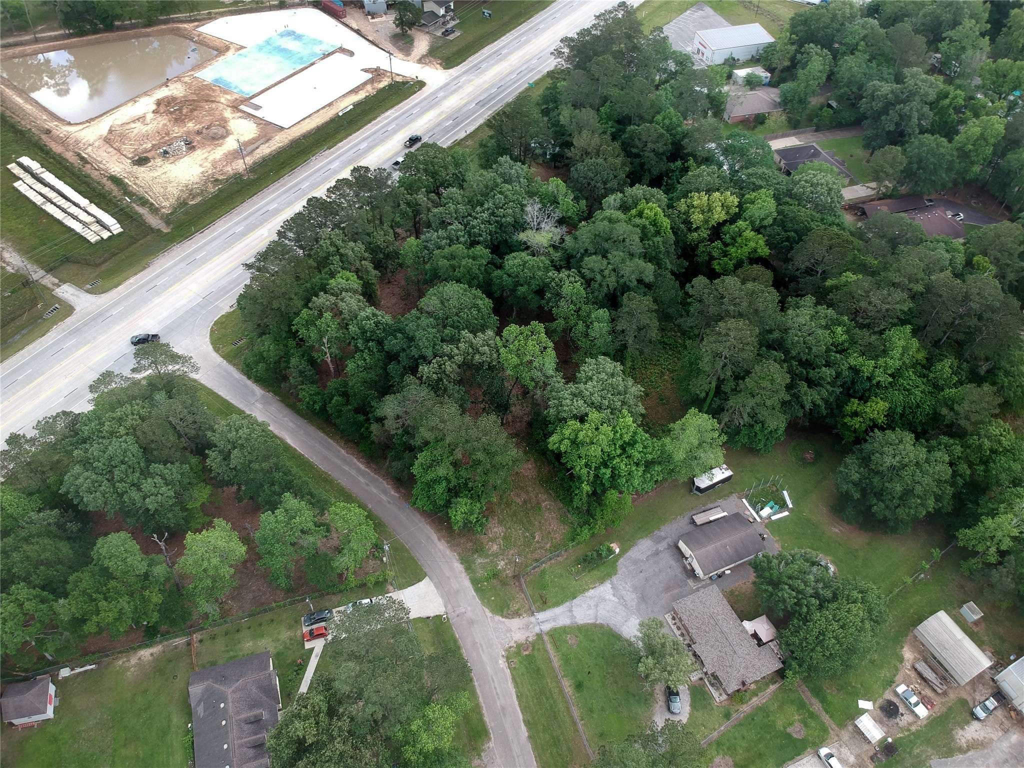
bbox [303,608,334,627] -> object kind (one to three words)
car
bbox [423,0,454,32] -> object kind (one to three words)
house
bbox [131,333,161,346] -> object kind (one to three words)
vehicle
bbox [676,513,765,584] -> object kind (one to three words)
building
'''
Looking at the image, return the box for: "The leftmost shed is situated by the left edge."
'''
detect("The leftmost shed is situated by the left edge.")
[2,677,63,726]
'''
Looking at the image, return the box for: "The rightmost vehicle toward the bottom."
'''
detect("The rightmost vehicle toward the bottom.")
[970,691,1007,722]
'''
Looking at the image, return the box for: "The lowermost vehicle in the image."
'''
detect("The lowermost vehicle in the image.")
[815,745,843,768]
